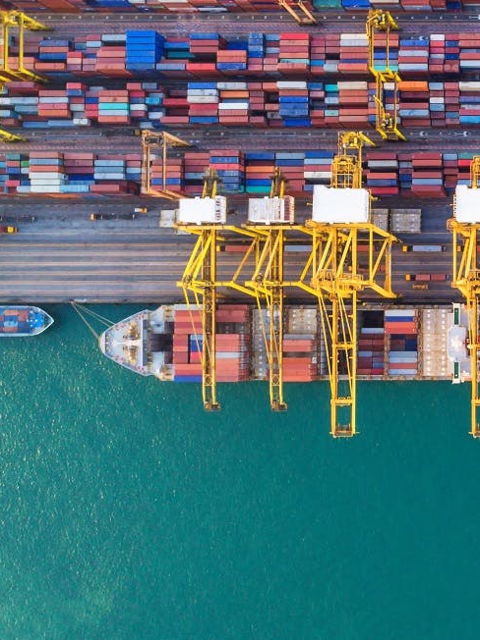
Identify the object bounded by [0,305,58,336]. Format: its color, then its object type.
blue ship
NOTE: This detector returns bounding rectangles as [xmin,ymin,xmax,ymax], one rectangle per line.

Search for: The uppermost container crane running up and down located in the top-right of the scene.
[368,7,404,82]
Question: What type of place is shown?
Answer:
port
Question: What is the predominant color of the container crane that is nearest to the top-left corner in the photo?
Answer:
yellow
